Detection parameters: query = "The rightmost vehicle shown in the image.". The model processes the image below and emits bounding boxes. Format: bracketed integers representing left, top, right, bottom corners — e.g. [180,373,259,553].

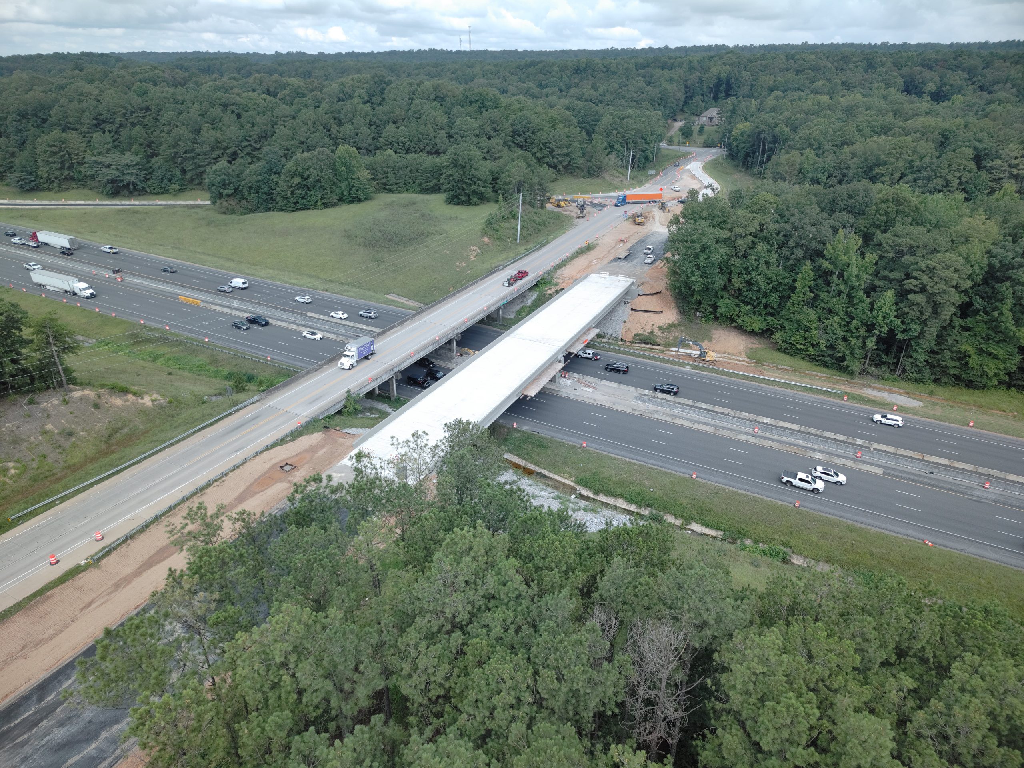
[873,413,905,428]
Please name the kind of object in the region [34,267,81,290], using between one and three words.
trailer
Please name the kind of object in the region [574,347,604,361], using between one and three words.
vehicle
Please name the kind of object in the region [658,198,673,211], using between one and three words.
vehicle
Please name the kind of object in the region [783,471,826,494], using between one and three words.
truck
